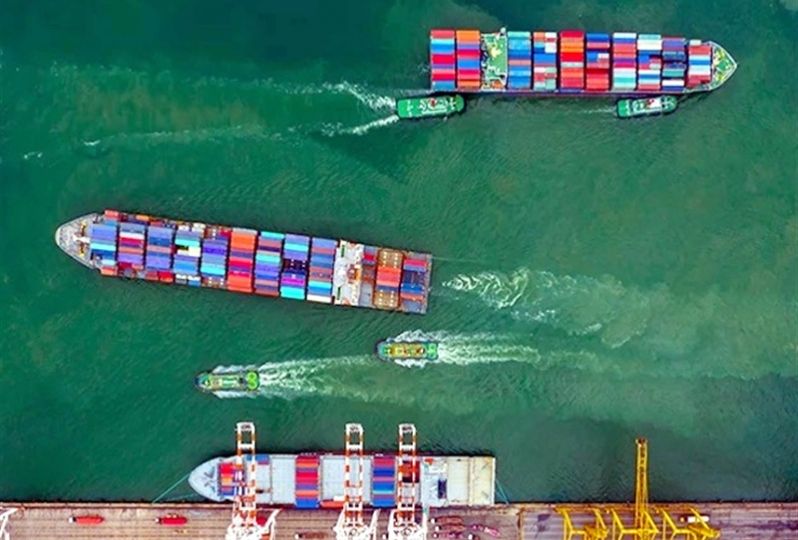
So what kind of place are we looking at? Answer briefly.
port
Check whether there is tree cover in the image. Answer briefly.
No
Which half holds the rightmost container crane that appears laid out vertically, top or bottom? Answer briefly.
bottom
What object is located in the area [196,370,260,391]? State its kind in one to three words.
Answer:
boat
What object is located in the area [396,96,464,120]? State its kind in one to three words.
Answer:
boat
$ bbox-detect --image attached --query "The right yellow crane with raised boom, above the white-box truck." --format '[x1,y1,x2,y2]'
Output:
[657,507,724,540]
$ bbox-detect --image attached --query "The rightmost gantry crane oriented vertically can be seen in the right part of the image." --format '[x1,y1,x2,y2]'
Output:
[609,437,659,540]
